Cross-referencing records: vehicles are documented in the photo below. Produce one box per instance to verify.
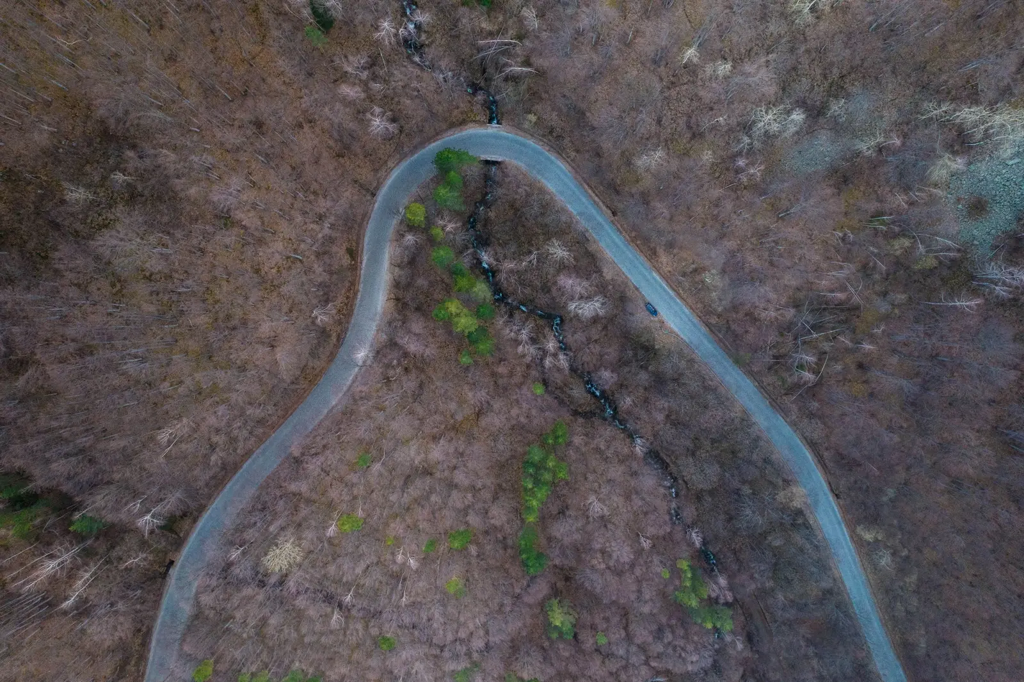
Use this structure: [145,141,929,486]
[644,302,658,318]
